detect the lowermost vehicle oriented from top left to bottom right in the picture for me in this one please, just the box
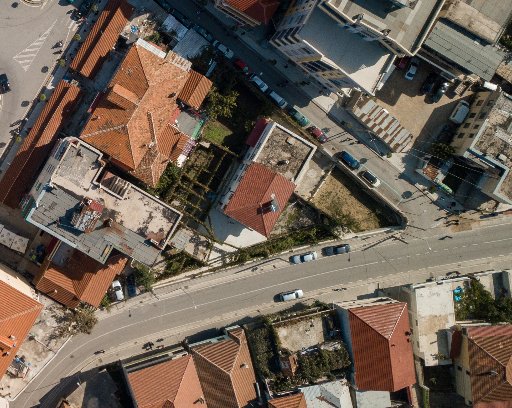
[358,169,381,188]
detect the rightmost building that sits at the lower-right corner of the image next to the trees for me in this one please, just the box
[447,323,512,408]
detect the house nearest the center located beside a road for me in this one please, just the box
[216,122,317,237]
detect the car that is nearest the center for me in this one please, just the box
[291,251,316,263]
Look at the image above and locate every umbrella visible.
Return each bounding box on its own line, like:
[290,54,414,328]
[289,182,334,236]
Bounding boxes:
[0,226,17,247]
[10,235,30,255]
